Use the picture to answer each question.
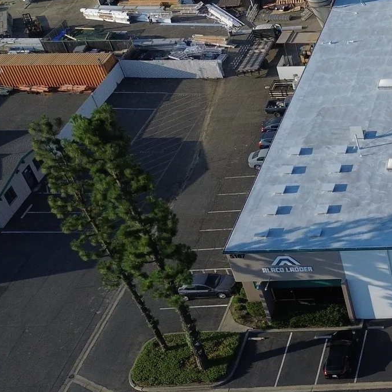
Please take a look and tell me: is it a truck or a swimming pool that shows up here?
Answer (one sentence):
Looking from above, you can make out a truck.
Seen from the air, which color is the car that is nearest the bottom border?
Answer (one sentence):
The car that is nearest the bottom border looks black in the image.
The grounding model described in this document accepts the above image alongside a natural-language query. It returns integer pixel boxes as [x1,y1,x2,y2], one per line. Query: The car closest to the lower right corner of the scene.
[323,325,361,380]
